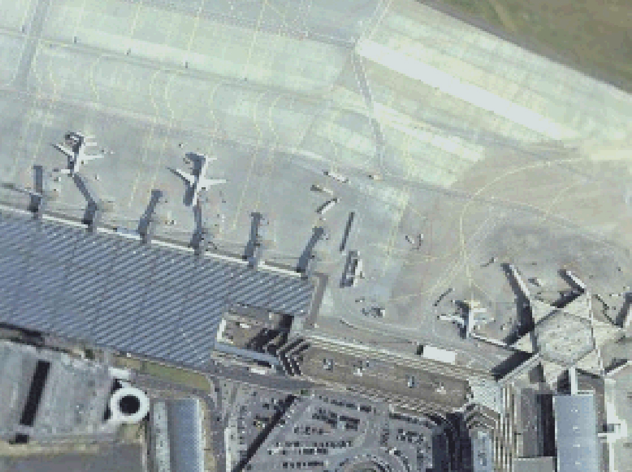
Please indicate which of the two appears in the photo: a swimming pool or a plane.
plane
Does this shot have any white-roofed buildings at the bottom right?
Yes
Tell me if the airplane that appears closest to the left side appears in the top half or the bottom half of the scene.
top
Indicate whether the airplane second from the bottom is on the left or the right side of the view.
left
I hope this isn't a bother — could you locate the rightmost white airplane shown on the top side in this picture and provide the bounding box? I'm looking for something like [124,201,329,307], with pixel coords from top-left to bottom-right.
[178,152,227,208]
